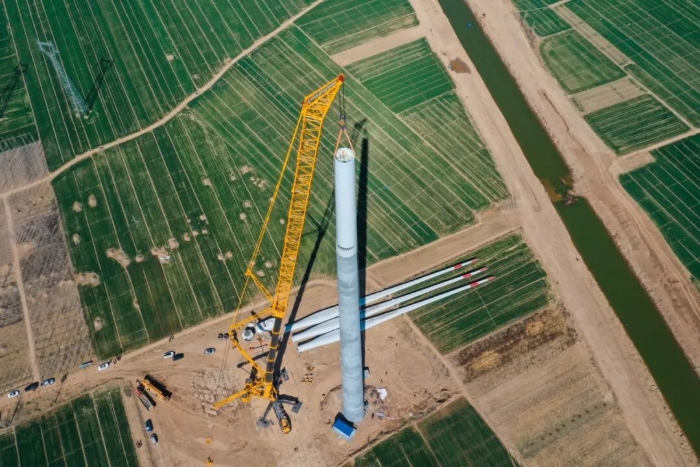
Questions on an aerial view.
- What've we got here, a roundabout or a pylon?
pylon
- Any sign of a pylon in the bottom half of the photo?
No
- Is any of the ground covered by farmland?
Yes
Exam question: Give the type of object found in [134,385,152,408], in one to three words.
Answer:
vehicle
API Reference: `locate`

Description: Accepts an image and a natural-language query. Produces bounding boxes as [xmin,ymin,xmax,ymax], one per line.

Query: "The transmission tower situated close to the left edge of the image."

[33,38,92,117]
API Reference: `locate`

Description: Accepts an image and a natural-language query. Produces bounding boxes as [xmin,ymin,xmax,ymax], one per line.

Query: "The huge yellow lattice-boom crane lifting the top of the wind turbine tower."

[208,75,347,433]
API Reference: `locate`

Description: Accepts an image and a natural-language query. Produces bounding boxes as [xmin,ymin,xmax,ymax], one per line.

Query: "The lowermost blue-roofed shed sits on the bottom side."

[331,418,355,443]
